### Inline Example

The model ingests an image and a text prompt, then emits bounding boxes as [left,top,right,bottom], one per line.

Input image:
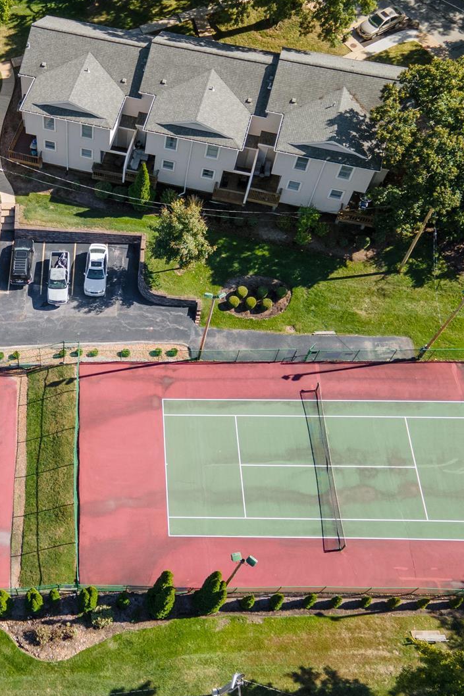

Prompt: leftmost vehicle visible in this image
[8,239,35,287]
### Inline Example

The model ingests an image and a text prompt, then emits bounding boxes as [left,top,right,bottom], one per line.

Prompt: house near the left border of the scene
[9,16,157,181]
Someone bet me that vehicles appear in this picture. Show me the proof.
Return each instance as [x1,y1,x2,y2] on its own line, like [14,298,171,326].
[8,239,35,287]
[359,10,407,41]
[43,249,72,302]
[83,244,110,293]
[55,250,63,267]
